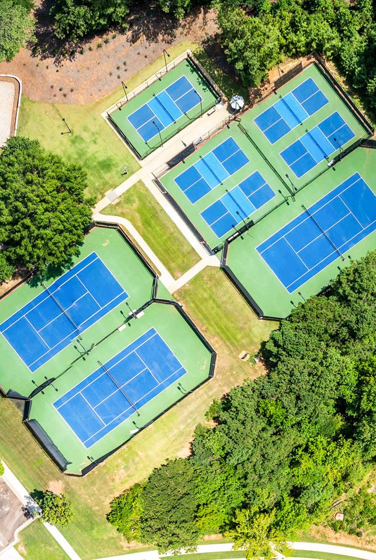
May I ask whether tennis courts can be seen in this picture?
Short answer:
Yes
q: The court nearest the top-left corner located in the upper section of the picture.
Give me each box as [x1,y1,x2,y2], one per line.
[109,60,220,158]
